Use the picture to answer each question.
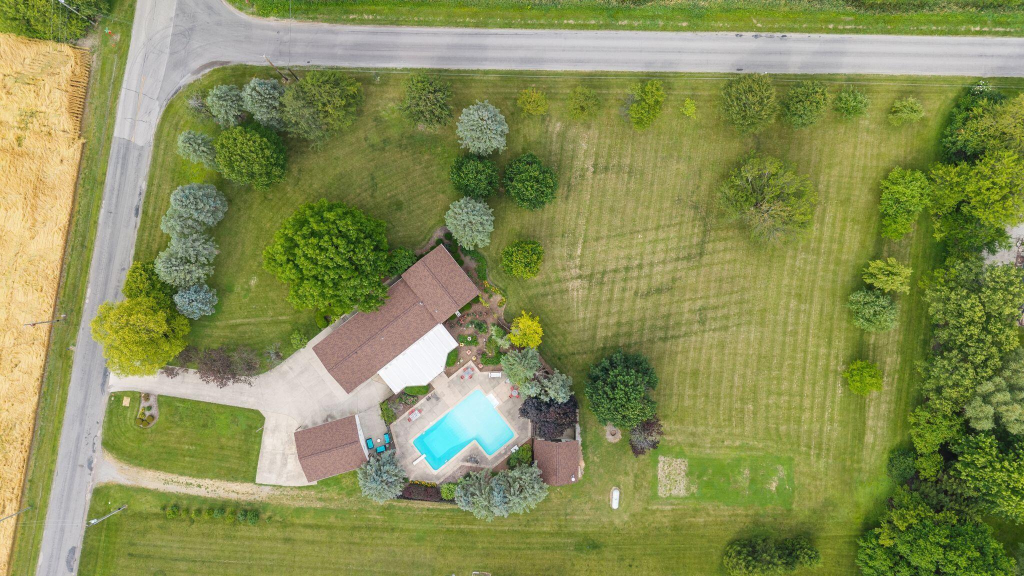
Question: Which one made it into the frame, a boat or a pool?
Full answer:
There is a pool in the scene.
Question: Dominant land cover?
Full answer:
For the most part, this view shows grass.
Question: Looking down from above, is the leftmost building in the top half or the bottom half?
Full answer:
It is in the bottom half that the leftmost building appears.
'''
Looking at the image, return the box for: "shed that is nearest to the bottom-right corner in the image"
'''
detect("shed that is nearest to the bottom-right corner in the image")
[534,437,581,486]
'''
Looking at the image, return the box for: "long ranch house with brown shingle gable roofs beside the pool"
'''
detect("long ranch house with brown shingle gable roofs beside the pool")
[313,244,480,394]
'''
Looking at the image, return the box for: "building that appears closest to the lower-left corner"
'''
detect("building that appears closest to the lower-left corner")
[295,413,371,484]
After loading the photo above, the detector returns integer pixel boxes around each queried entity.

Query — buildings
[534,437,581,486]
[313,244,480,394]
[295,413,371,484]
